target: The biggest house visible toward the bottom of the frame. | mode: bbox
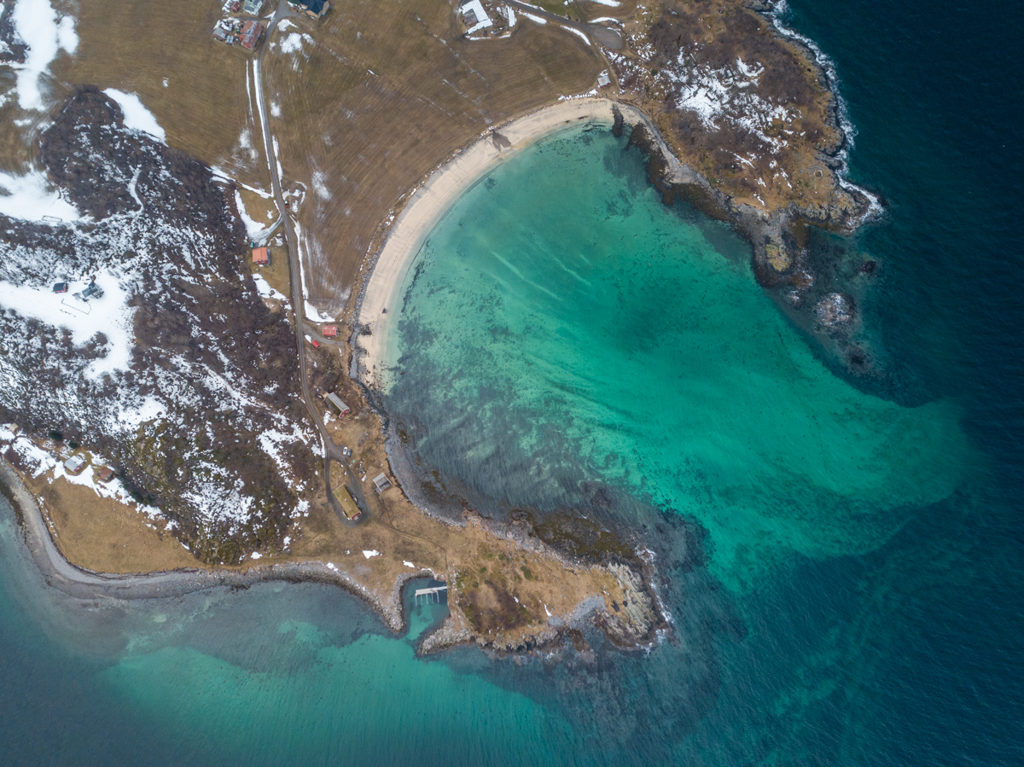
[334,485,362,519]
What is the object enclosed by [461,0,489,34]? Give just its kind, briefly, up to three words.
barn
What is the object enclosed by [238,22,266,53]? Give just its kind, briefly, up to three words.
barn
